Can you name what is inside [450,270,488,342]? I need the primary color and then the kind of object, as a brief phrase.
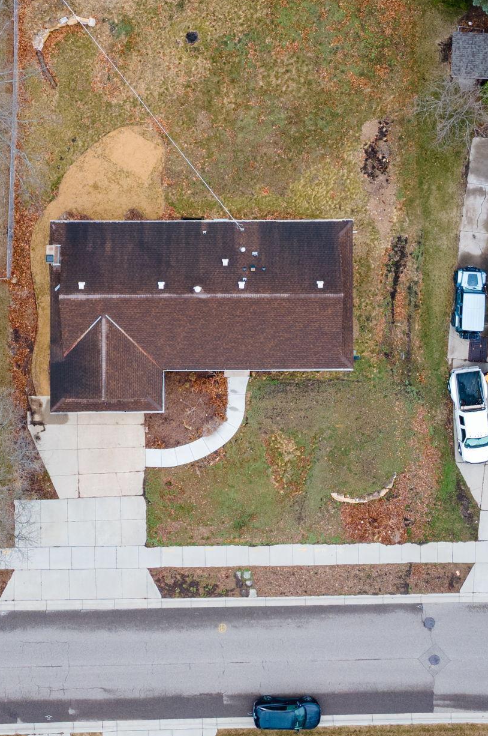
white car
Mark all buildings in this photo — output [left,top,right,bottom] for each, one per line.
[46,214,360,414]
[446,32,488,84]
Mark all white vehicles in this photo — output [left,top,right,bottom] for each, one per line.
[446,364,488,463]
[450,270,488,342]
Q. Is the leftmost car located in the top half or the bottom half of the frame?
bottom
